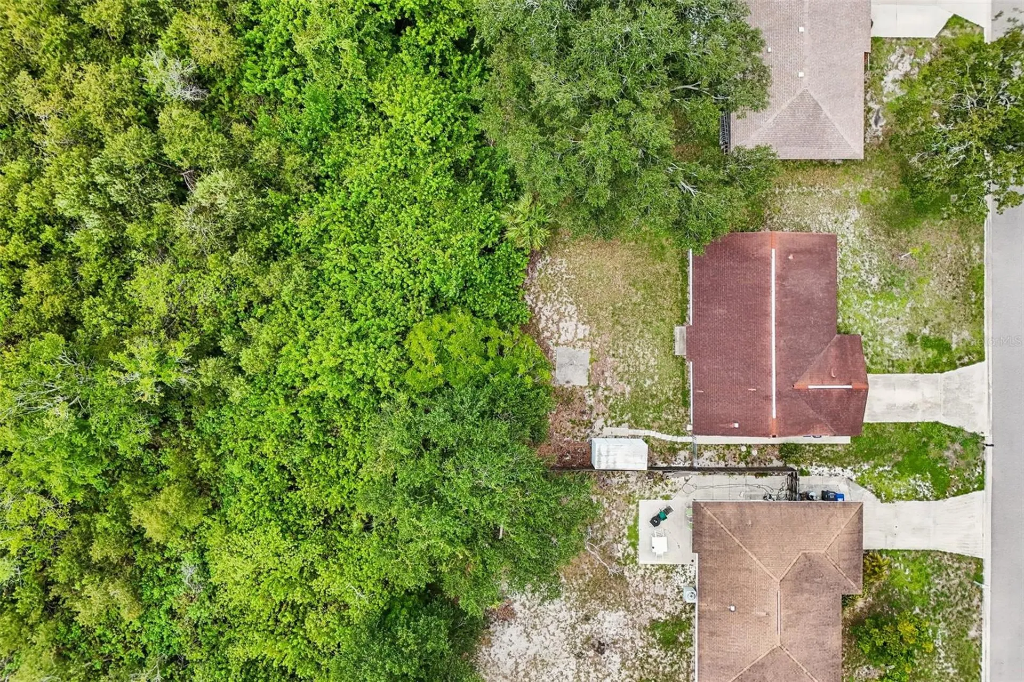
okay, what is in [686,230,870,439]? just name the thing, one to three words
house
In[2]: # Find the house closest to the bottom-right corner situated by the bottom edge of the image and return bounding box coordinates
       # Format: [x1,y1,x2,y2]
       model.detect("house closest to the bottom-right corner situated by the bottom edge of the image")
[692,499,863,682]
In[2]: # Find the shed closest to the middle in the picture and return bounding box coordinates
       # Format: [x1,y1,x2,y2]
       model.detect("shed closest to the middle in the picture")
[592,438,649,470]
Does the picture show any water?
No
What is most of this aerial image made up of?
trees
